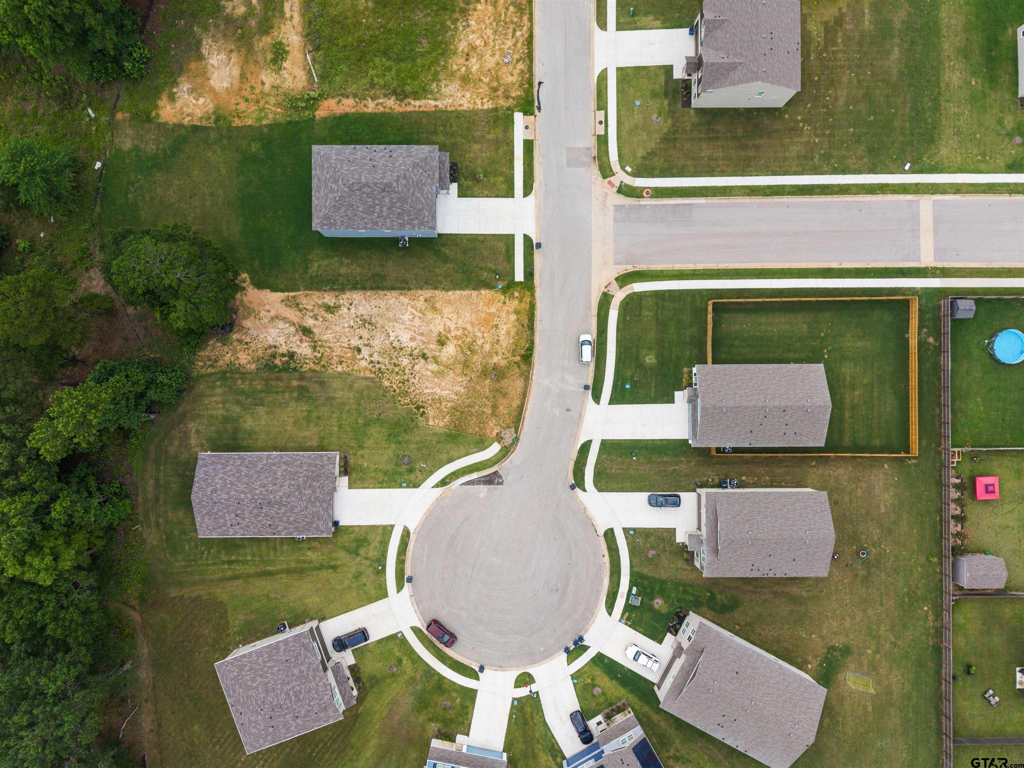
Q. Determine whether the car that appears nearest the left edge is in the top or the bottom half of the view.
bottom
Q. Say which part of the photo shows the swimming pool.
right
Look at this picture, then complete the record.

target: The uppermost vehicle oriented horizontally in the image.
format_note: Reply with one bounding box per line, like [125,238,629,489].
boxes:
[647,492,682,508]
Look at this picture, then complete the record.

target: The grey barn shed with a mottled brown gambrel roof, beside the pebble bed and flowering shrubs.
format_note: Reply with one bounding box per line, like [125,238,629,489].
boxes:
[954,555,1007,588]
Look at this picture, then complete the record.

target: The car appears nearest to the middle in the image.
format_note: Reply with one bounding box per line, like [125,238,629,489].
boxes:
[578,333,594,363]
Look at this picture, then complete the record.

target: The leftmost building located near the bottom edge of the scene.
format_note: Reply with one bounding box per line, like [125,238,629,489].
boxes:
[214,620,359,754]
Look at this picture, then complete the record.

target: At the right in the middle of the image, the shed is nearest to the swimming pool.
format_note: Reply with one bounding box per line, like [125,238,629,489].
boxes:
[952,299,977,318]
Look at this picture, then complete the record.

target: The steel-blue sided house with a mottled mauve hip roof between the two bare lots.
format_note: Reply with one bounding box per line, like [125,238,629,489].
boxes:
[311,144,452,237]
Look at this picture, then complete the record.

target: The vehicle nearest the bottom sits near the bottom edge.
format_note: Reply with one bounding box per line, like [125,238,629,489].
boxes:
[571,708,593,741]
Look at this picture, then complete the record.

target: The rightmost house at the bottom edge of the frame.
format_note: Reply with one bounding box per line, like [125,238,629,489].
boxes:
[654,611,827,768]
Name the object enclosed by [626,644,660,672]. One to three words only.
car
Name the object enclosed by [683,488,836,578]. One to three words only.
house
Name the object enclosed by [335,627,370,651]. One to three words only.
car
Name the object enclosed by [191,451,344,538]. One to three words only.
house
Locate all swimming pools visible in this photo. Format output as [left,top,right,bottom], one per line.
[985,328,1024,365]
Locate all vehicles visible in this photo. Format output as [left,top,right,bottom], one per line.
[571,708,593,741]
[335,627,370,651]
[427,619,456,645]
[626,644,660,672]
[578,333,594,363]
[647,492,682,508]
